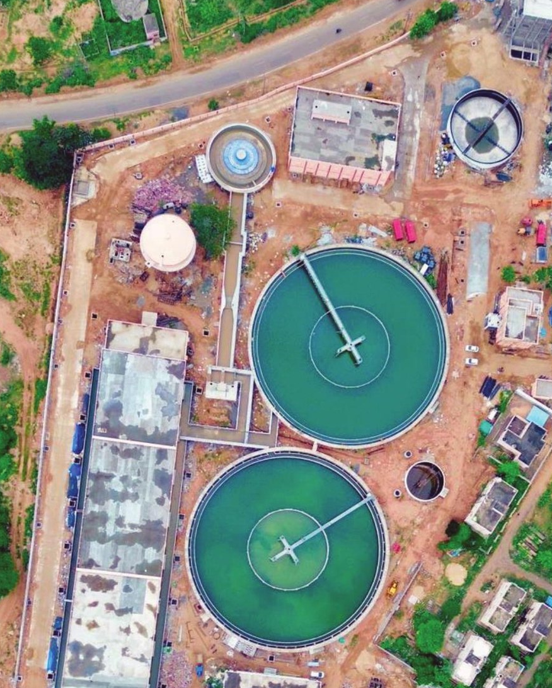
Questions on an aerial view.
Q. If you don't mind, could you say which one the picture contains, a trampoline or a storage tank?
storage tank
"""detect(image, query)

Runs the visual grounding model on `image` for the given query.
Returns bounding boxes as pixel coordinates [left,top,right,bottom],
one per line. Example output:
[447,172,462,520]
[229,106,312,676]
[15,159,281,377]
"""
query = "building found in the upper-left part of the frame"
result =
[143,13,159,41]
